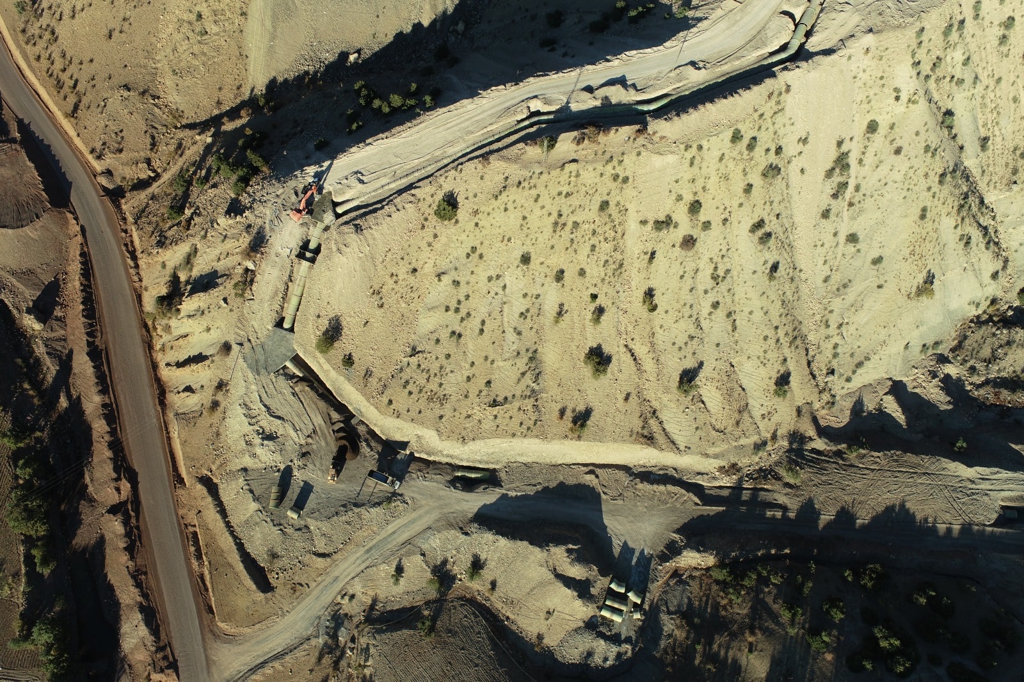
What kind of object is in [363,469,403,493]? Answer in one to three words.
truck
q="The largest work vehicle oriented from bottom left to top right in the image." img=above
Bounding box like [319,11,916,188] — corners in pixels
[285,172,322,226]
